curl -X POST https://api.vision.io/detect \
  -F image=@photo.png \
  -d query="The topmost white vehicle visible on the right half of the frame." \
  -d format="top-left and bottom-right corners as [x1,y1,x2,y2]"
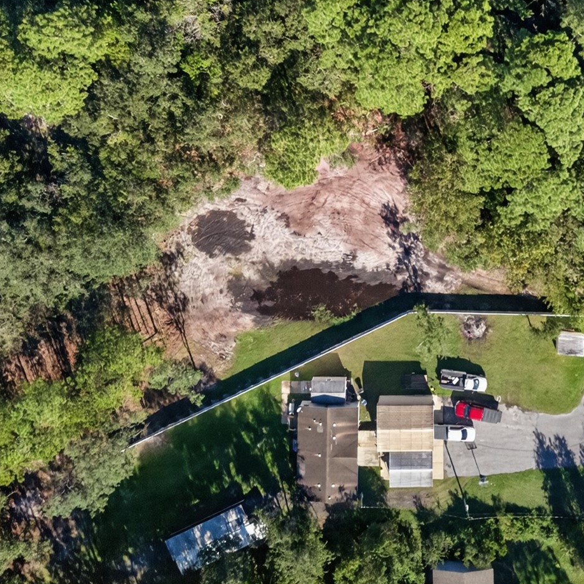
[438,372,488,396]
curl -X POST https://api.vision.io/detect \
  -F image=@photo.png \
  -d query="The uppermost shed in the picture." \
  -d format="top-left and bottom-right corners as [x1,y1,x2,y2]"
[556,330,584,355]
